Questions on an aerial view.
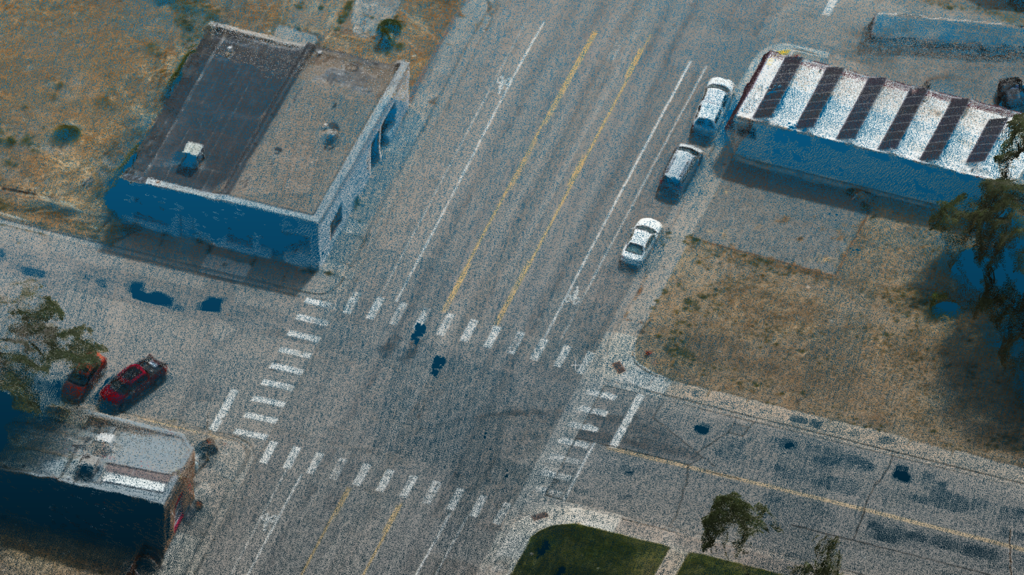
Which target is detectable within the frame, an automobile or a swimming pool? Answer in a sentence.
It is an automobile that can be seen here.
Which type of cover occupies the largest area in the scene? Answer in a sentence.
For the most part, this view shows paved ground.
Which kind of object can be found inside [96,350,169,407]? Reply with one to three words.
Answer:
truck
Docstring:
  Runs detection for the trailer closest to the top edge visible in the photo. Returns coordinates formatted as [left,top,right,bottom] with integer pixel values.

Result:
[873,14,1024,65]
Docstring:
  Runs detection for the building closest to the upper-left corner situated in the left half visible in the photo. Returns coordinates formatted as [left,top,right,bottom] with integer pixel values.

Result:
[121,21,408,274]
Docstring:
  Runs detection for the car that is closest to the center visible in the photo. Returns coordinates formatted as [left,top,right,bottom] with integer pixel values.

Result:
[619,218,663,270]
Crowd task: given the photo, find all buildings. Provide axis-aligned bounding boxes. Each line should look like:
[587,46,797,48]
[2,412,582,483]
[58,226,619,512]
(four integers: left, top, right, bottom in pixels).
[0,392,198,566]
[121,21,408,274]
[729,48,1024,224]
